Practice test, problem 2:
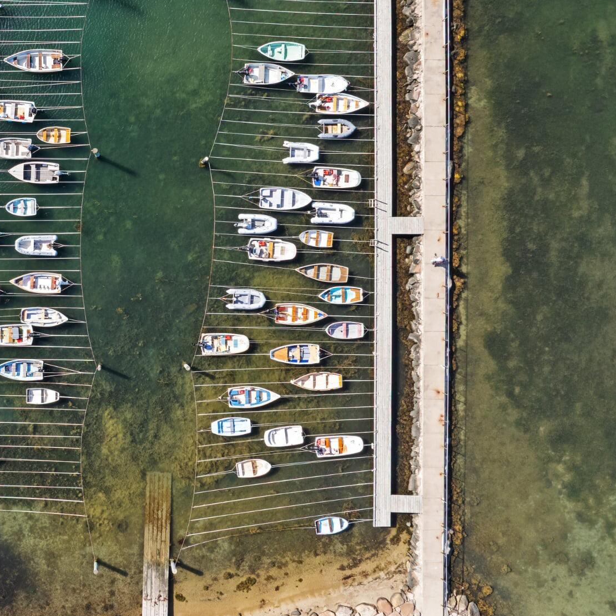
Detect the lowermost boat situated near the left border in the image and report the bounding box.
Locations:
[27,388,60,404]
